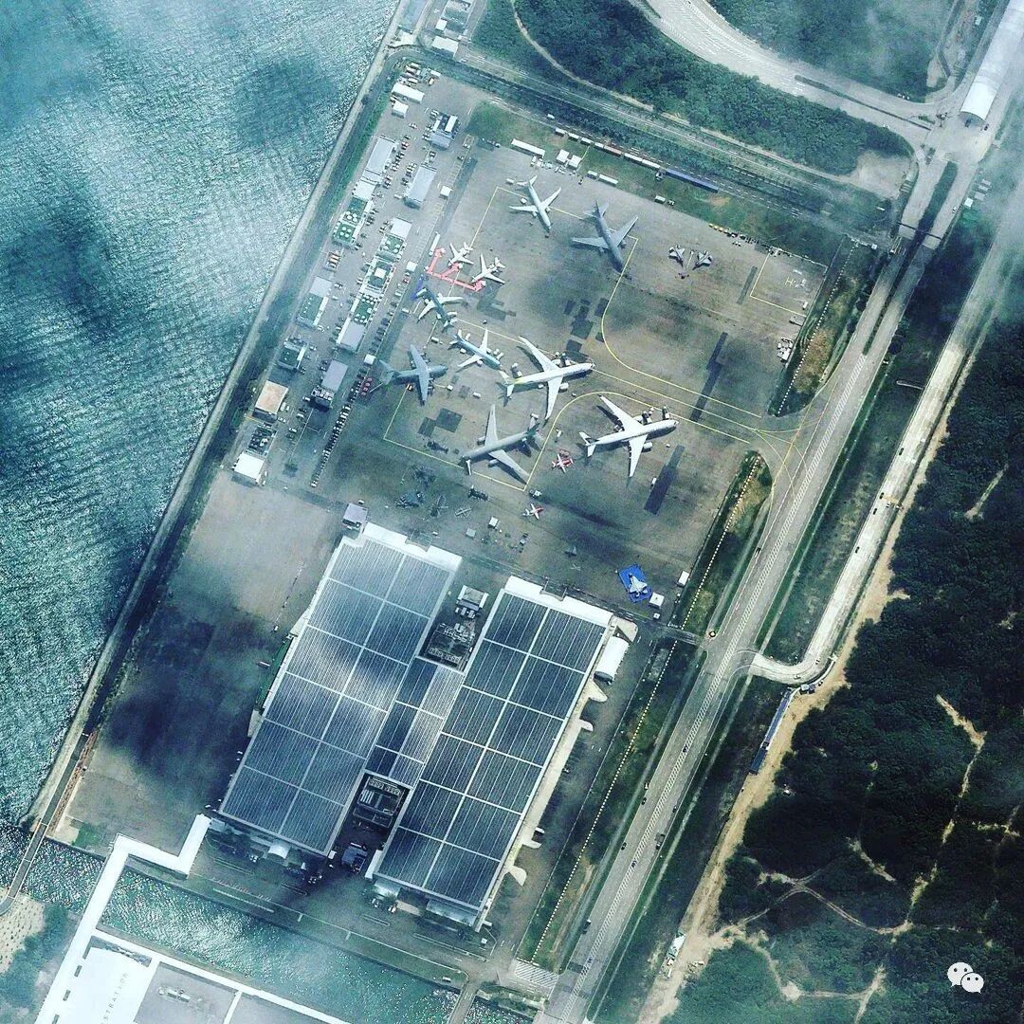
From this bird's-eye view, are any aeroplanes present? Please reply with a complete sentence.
Yes, you can see an aeroplane in this photo.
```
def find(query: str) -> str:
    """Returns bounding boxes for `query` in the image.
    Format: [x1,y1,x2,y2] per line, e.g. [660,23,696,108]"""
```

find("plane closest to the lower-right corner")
[627,574,646,598]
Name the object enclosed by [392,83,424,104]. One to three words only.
tent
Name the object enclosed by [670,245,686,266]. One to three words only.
airplane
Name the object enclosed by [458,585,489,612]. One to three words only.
building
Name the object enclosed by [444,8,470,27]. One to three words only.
shed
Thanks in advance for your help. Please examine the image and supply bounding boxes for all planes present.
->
[514,177,565,230]
[472,250,507,282]
[693,250,711,270]
[582,394,679,478]
[382,344,447,399]
[503,338,594,415]
[449,239,475,265]
[627,574,646,598]
[522,503,543,519]
[670,245,686,266]
[451,505,475,517]
[565,546,577,558]
[449,328,500,368]
[419,286,463,327]
[573,200,641,272]
[461,404,546,478]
